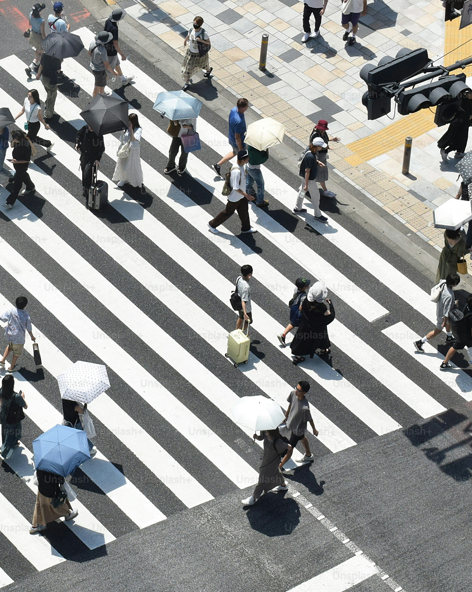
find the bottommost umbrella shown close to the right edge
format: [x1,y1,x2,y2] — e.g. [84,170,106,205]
[432,199,472,237]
